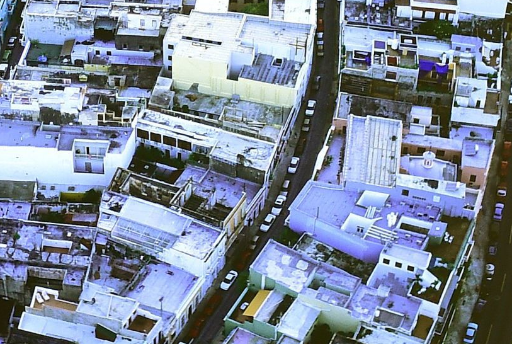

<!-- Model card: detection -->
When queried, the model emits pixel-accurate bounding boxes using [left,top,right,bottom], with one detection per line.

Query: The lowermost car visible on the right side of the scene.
[464,324,478,344]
